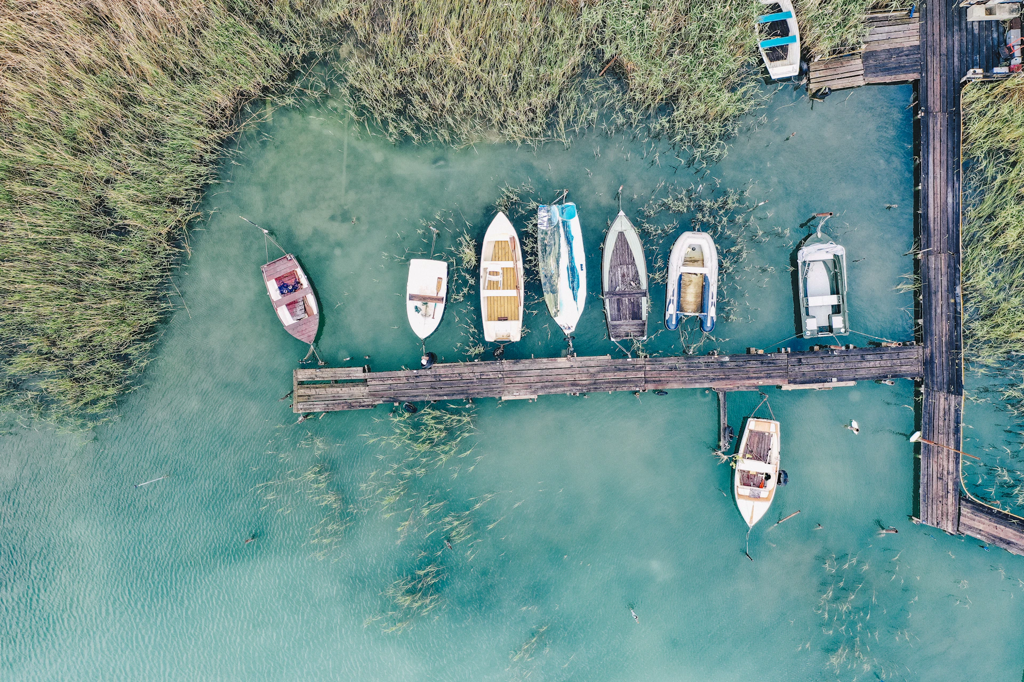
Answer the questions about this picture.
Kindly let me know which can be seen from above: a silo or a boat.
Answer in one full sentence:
The image shows a boat.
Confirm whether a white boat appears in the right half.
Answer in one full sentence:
Yes, you'll find a white boat in the right half.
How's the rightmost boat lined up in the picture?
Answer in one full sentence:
Seen from above, the rightmost boat lies up and down.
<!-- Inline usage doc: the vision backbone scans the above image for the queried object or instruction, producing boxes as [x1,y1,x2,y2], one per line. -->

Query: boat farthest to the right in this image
[796,231,849,339]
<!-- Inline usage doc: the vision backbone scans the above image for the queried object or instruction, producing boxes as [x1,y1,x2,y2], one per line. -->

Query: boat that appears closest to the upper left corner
[261,254,320,344]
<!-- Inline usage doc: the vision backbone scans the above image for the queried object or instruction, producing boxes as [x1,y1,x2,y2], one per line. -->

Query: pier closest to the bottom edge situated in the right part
[958,498,1024,557]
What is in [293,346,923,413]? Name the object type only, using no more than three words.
pier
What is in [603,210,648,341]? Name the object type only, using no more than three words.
boat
